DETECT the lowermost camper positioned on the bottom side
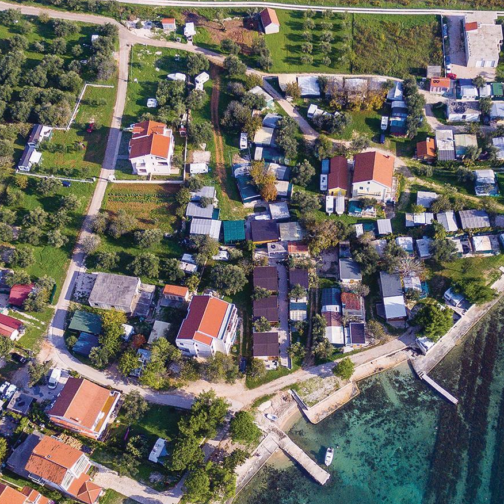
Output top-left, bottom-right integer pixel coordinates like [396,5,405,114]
[150,438,173,465]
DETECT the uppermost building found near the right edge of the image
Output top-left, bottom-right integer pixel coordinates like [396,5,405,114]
[460,12,499,75]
